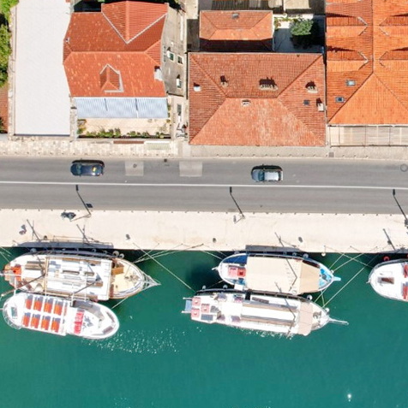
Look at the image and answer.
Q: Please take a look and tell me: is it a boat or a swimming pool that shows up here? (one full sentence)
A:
The one in the frame is a boat.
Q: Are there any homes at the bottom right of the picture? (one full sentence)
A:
No, the scene shows no home at the bottom right of the picture.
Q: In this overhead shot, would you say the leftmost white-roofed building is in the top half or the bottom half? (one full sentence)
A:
It is in the top half that the leftmost white-roofed building appears.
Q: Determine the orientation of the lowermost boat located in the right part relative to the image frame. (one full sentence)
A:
The lowermost boat located in the right part is oriented from side to side.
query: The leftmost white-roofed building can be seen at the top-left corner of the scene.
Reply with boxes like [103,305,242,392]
[15,0,84,136]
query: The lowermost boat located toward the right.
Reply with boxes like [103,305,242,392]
[182,284,349,340]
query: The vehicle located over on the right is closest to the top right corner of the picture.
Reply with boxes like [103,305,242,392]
[252,166,282,182]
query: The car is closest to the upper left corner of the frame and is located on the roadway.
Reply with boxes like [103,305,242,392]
[72,161,105,177]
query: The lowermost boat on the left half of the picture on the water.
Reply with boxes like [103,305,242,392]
[0,291,124,337]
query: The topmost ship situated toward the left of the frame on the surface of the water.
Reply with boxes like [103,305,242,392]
[0,247,161,300]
